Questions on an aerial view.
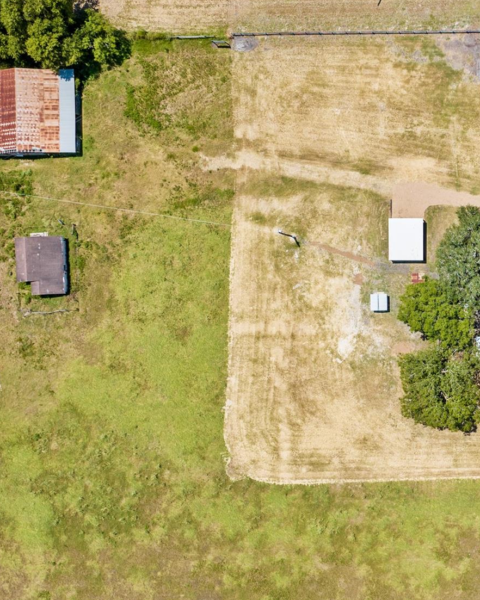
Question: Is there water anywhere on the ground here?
No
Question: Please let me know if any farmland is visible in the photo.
Yes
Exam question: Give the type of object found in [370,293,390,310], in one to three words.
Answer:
shed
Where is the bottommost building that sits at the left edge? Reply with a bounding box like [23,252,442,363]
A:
[15,236,73,295]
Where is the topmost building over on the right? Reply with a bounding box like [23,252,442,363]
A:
[389,218,426,261]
